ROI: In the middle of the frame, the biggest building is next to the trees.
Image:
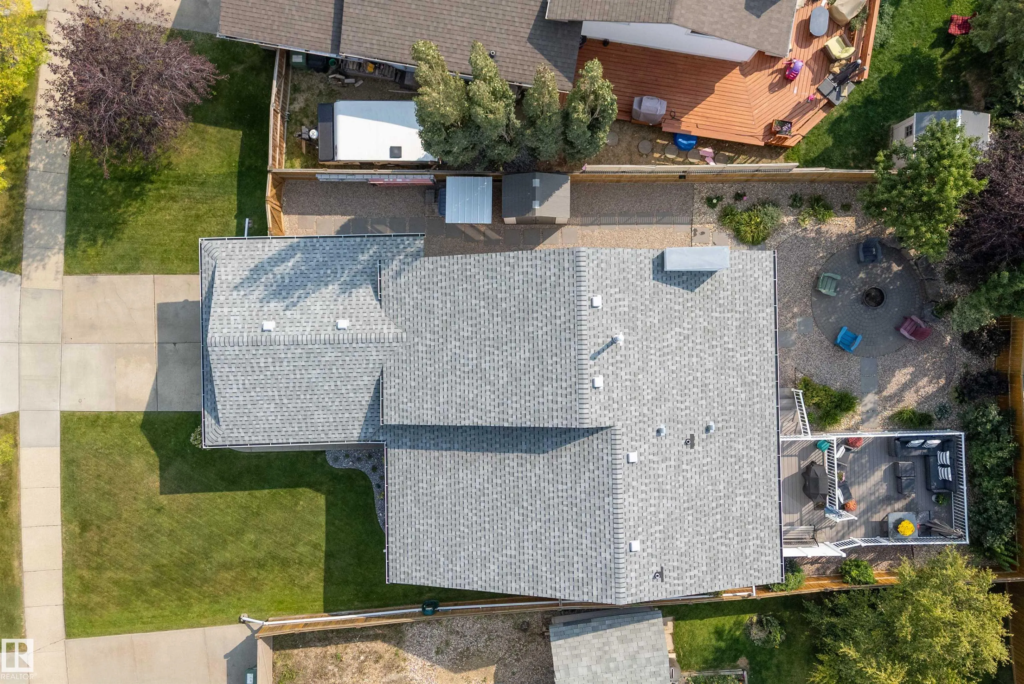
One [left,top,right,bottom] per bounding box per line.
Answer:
[197,220,786,604]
